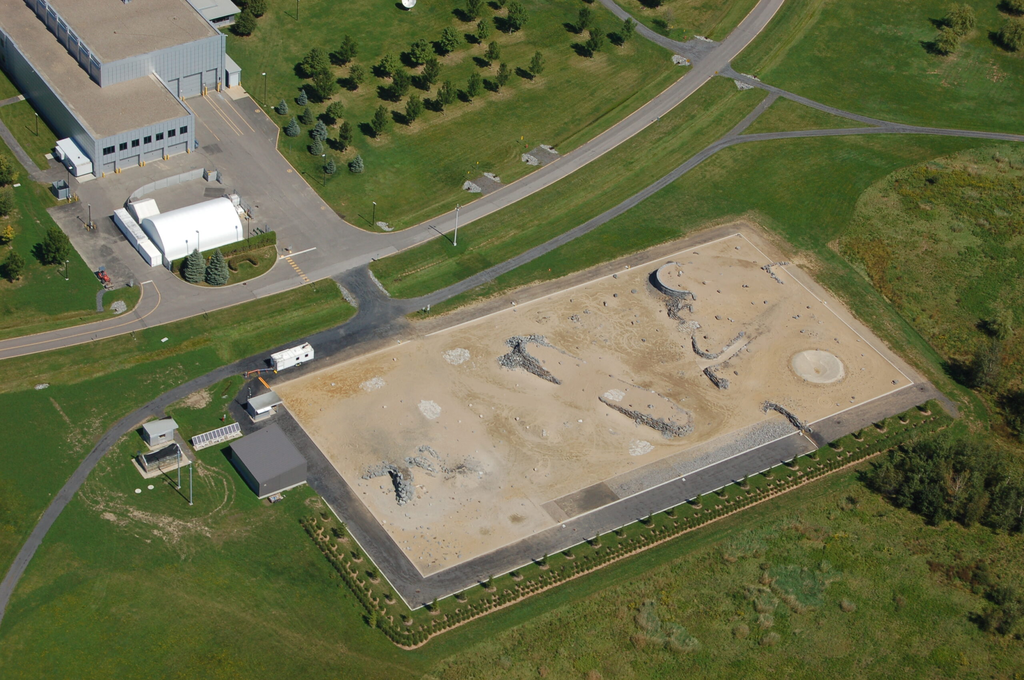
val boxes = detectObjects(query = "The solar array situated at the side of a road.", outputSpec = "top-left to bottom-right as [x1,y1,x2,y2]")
[192,422,243,451]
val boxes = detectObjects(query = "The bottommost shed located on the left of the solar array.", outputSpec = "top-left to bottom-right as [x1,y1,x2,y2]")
[131,439,189,479]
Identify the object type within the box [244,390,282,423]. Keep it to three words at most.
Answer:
shed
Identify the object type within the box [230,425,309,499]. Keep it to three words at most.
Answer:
barn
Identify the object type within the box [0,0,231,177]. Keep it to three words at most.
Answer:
building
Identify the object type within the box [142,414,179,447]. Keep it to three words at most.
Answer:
shed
